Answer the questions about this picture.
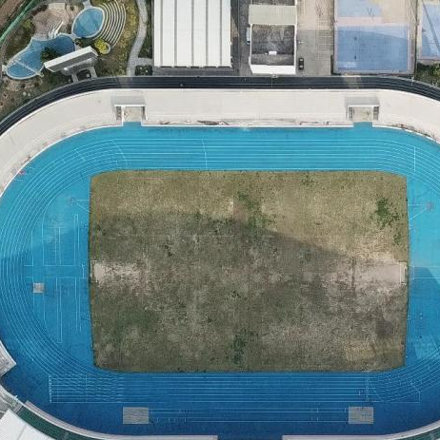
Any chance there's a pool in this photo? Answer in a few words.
Yes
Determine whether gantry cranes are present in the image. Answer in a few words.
No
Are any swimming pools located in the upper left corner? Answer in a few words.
Yes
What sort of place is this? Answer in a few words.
sports ground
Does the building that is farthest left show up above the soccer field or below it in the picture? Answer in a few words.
above it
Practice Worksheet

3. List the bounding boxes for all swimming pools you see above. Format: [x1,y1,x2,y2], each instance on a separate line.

[71,6,106,38]
[2,33,78,80]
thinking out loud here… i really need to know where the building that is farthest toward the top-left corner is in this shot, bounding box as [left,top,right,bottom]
[153,0,236,73]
